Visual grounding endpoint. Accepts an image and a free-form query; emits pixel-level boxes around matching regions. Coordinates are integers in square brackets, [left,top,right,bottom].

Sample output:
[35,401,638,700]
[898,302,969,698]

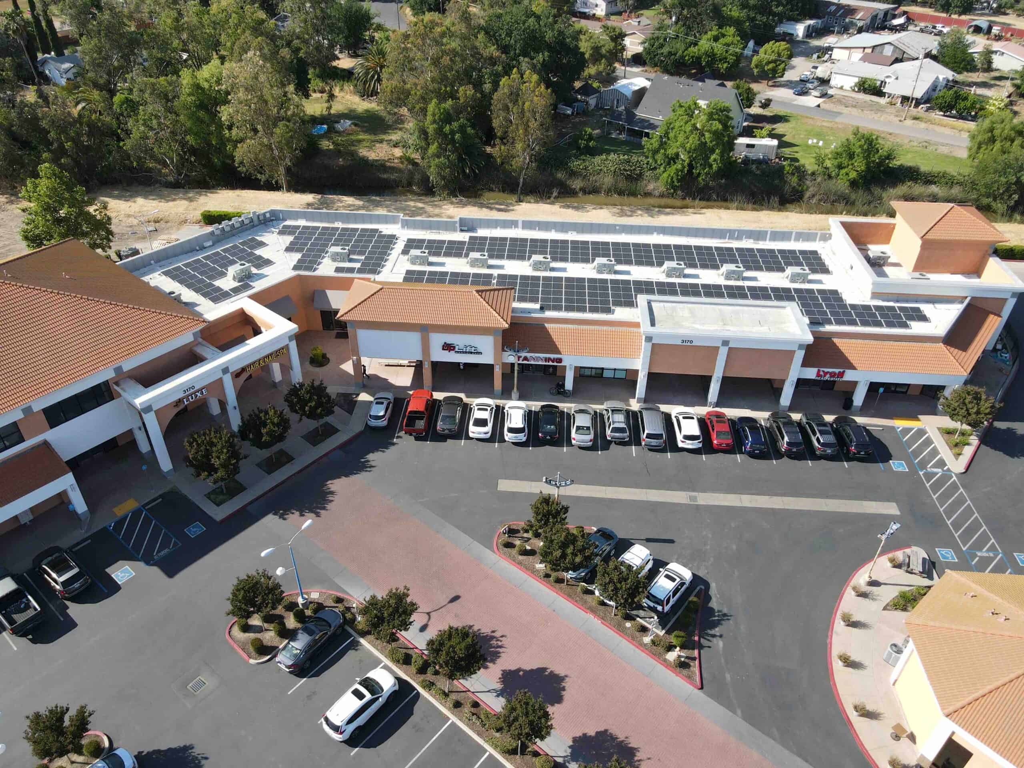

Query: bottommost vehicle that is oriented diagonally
[320,670,403,748]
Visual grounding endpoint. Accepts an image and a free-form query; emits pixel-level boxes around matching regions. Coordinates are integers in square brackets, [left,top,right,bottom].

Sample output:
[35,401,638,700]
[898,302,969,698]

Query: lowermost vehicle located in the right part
[641,561,701,623]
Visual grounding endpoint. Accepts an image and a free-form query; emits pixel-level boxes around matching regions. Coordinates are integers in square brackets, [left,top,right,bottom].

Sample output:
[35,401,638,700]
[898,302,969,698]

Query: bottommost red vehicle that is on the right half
[705,410,735,451]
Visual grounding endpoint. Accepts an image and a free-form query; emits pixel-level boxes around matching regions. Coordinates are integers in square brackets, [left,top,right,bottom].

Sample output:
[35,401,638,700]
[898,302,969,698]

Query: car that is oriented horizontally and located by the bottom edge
[74,741,137,768]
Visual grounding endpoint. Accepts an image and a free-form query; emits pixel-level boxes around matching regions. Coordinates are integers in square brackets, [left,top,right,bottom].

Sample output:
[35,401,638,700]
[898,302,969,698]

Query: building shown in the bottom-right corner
[884,570,1024,768]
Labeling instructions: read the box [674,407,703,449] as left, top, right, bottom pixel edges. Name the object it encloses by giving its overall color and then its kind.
white car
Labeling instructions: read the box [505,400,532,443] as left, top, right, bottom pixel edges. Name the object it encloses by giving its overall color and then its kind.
white car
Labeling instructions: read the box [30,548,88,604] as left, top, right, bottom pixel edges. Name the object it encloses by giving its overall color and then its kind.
black car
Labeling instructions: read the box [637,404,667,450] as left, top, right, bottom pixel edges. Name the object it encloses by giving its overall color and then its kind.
gray car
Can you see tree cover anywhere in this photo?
Yes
